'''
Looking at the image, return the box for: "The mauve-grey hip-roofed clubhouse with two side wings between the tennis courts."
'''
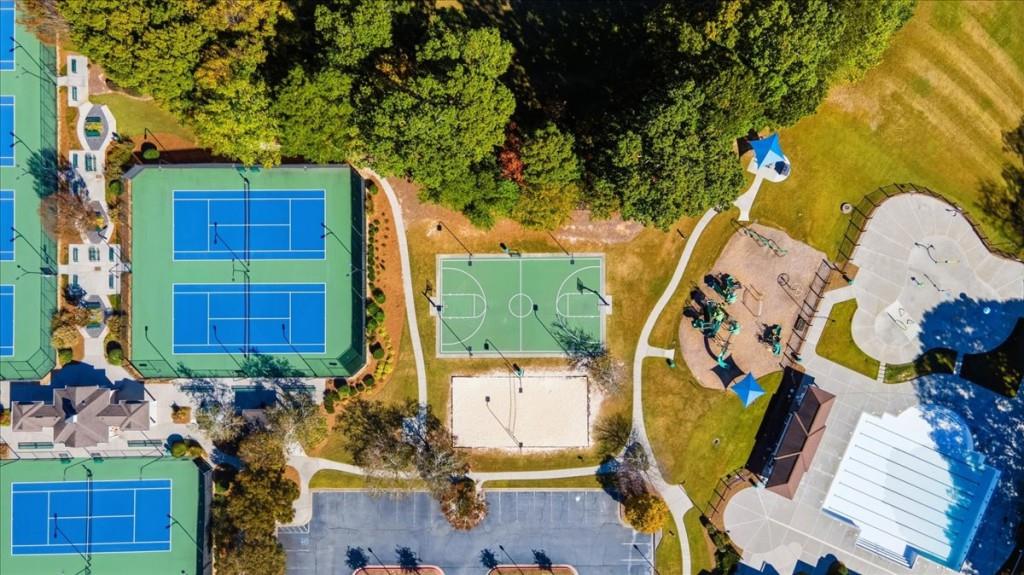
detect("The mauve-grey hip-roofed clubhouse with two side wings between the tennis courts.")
[11,386,158,448]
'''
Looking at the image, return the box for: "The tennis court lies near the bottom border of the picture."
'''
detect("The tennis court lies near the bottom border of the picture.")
[0,460,204,575]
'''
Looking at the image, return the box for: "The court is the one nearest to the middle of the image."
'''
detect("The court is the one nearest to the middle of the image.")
[436,254,606,358]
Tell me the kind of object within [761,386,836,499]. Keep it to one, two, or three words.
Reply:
building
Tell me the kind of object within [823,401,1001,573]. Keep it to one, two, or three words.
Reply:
swimming pool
